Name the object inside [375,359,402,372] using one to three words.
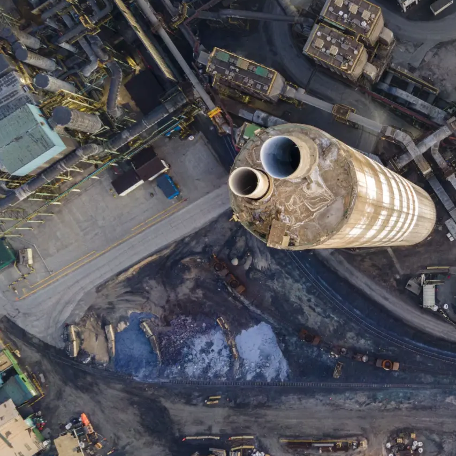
rail car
